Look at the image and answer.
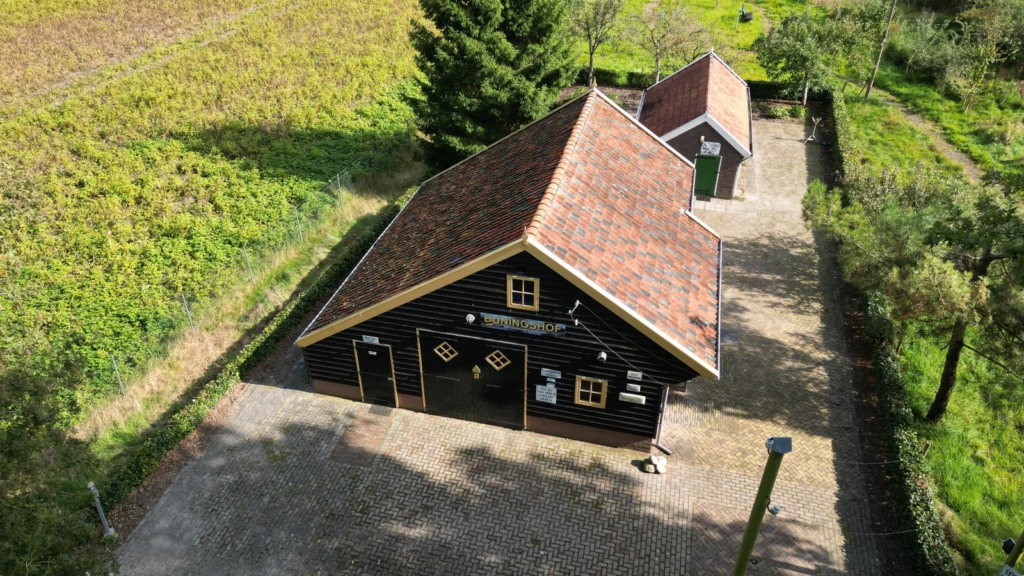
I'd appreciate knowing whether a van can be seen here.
No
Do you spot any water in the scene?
No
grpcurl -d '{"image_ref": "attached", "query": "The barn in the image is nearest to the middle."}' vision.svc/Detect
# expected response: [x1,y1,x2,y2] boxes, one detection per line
[289,80,727,464]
